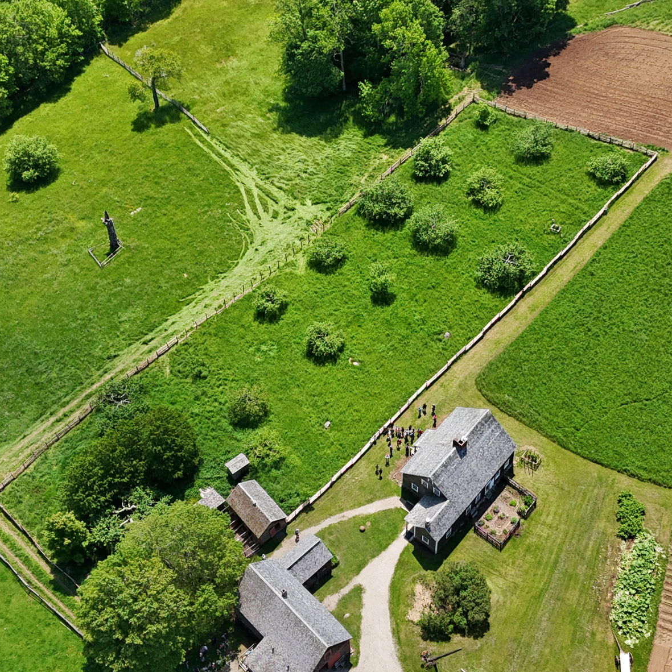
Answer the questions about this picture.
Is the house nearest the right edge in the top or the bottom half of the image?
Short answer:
bottom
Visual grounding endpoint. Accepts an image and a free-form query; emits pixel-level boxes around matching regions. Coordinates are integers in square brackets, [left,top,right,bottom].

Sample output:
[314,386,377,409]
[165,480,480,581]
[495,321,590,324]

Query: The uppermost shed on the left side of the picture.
[224,454,250,482]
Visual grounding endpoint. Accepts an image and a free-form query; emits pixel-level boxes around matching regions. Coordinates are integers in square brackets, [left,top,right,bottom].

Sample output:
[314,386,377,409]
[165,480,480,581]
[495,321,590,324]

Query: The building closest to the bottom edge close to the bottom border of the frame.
[232,534,353,672]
